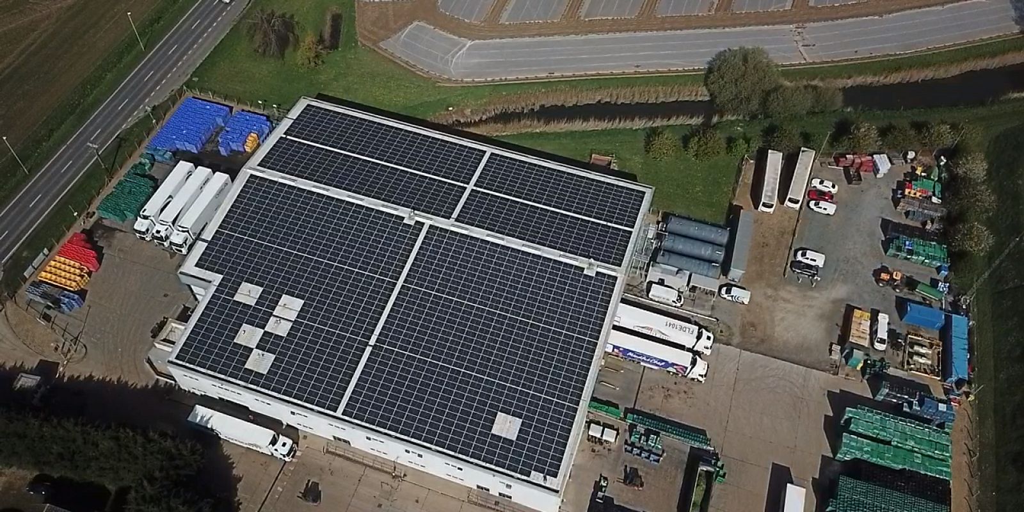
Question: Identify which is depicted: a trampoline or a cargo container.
cargo container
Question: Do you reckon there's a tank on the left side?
No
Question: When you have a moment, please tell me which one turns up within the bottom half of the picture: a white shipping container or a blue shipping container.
blue shipping container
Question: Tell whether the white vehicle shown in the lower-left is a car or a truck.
truck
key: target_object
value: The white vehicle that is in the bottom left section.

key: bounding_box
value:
[190,404,298,459]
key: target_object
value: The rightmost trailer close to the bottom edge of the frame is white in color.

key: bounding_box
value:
[778,482,805,512]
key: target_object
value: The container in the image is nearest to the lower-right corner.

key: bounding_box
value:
[943,313,969,395]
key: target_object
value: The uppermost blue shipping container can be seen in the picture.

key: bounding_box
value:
[899,300,945,330]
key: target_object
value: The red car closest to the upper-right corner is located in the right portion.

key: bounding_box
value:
[809,191,835,204]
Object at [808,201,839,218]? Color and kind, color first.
white vehicle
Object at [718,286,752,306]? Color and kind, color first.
white vehicle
